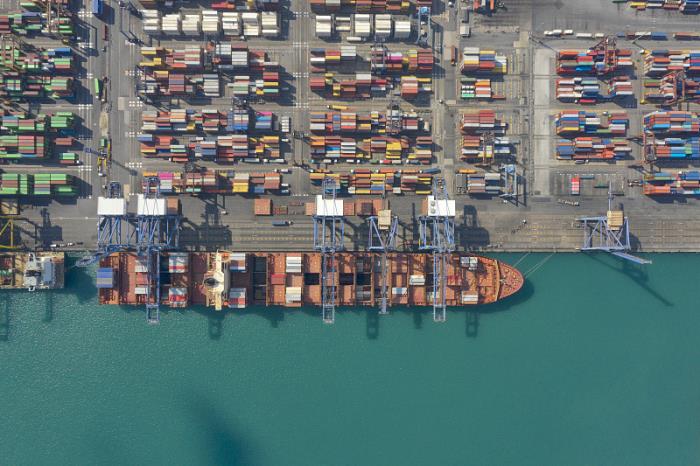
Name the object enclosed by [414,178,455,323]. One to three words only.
container crane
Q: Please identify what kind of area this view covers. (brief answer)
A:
port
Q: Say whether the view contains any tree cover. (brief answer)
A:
No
